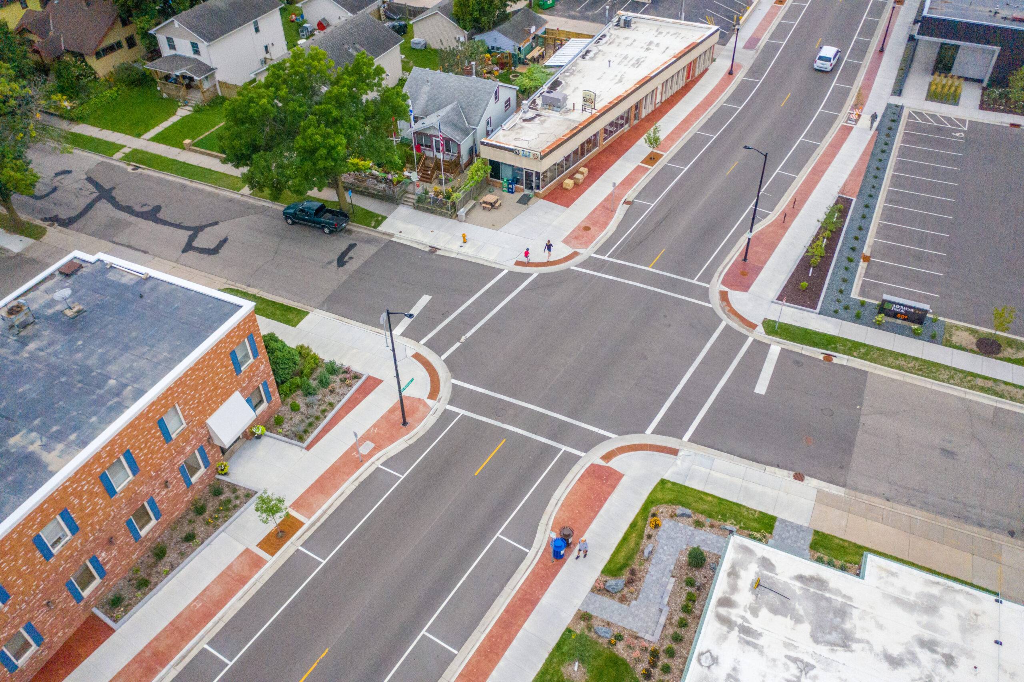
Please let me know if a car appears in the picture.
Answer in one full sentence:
Yes, looking at the shot, I can spot a car.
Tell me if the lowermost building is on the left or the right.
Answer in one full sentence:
It is on the right.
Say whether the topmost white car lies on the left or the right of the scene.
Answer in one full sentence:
The topmost white car sits on the right side.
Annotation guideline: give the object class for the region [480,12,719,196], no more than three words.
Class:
building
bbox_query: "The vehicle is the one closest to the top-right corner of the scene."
[812,46,842,71]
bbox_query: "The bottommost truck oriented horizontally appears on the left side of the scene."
[278,199,352,235]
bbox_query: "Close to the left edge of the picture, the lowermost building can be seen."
[0,250,279,682]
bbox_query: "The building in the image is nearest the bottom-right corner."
[683,537,1024,682]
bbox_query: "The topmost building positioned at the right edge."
[891,0,1024,85]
